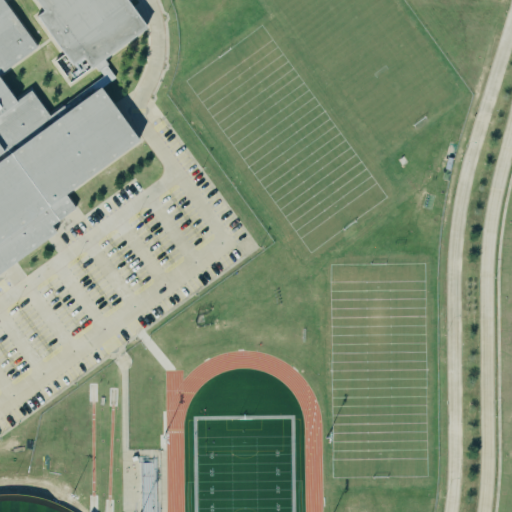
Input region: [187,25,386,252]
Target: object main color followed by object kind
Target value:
green sports field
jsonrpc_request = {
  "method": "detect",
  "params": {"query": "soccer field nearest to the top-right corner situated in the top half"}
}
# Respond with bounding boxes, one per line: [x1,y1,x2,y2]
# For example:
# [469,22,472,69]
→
[270,0,462,148]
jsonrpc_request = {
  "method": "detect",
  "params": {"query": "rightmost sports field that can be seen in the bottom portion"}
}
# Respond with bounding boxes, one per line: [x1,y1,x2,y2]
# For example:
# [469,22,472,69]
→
[331,264,428,478]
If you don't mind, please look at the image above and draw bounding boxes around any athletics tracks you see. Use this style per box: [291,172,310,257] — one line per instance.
[166,350,324,512]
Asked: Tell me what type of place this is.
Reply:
sports ground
